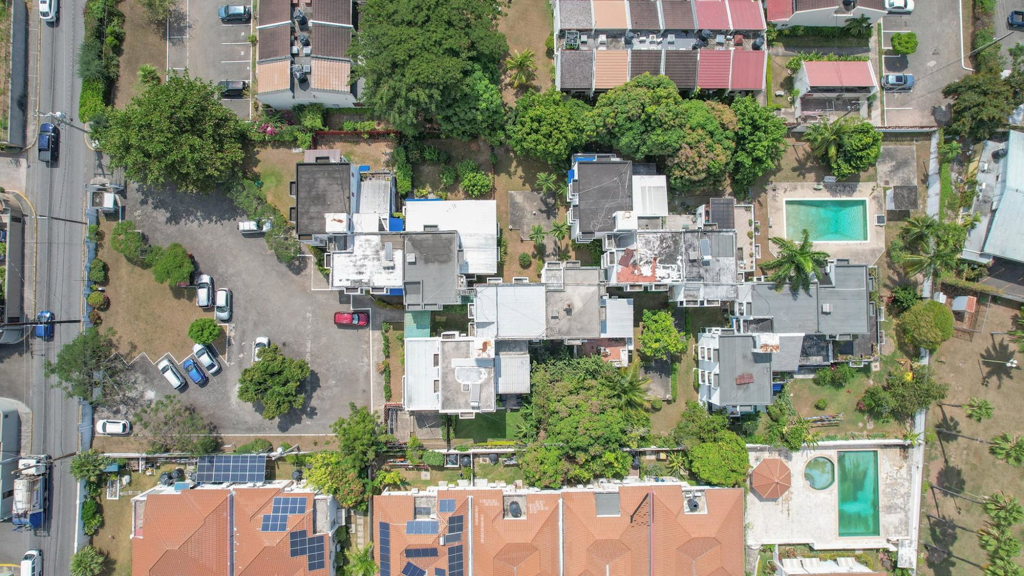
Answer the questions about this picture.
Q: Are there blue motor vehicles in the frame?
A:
Yes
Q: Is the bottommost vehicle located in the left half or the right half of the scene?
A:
left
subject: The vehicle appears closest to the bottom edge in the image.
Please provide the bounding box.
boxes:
[20,548,42,576]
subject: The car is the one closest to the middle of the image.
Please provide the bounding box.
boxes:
[334,310,370,327]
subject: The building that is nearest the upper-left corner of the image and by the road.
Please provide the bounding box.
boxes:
[90,182,128,222]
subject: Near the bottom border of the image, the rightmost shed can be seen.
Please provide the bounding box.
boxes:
[894,538,913,569]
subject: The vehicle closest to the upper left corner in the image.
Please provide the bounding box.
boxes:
[40,0,60,24]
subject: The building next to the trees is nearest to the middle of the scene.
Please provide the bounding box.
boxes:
[468,277,545,338]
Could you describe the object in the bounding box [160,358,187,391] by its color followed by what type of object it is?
white car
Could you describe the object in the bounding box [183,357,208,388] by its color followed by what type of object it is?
blue car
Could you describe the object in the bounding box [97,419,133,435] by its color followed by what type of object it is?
white car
